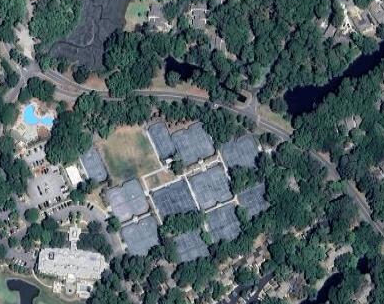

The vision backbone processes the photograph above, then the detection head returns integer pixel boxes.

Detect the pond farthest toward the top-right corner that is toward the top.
[286,42,384,113]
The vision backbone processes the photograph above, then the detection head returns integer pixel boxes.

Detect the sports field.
[103,125,162,185]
